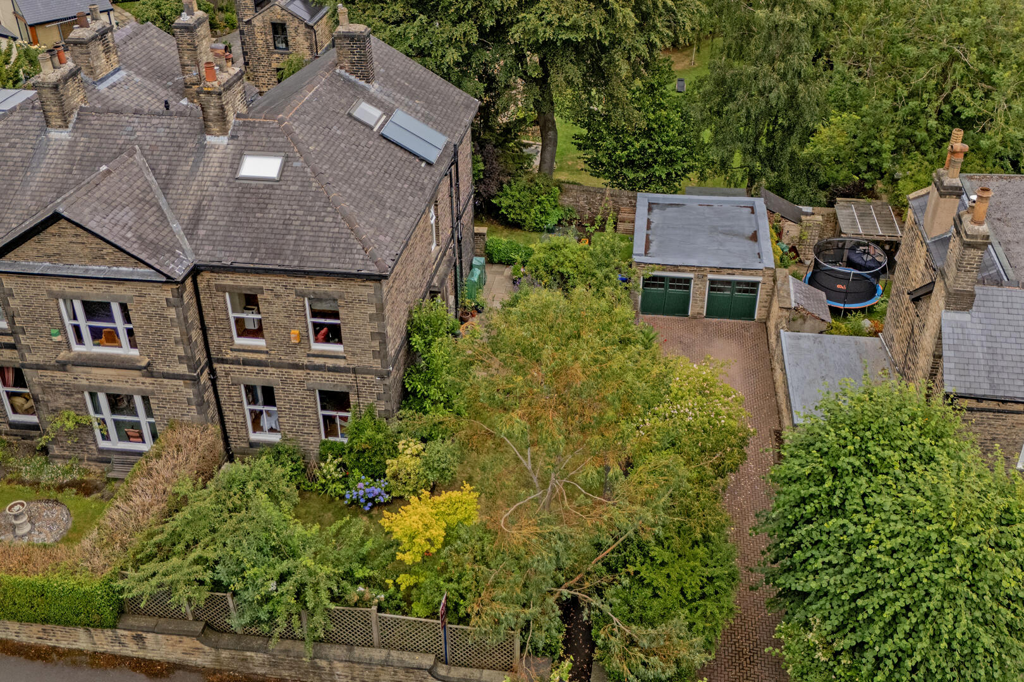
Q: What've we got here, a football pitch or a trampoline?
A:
trampoline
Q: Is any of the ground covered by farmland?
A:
No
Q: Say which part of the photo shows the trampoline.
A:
right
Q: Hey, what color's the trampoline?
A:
black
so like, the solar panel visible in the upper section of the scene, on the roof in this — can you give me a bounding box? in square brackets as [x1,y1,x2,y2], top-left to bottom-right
[380,104,451,164]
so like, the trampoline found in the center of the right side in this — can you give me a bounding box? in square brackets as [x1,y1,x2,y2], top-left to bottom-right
[808,239,886,324]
